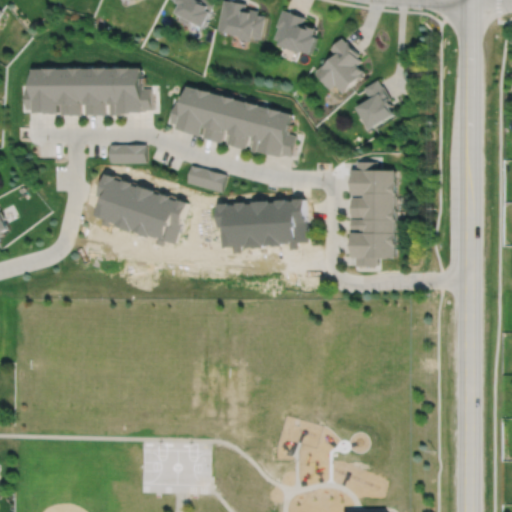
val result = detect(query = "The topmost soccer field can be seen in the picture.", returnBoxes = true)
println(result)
[22,303,409,433]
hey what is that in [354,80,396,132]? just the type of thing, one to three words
house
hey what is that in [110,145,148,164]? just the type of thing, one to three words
building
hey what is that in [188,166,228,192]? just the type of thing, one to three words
building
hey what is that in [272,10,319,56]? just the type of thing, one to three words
house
